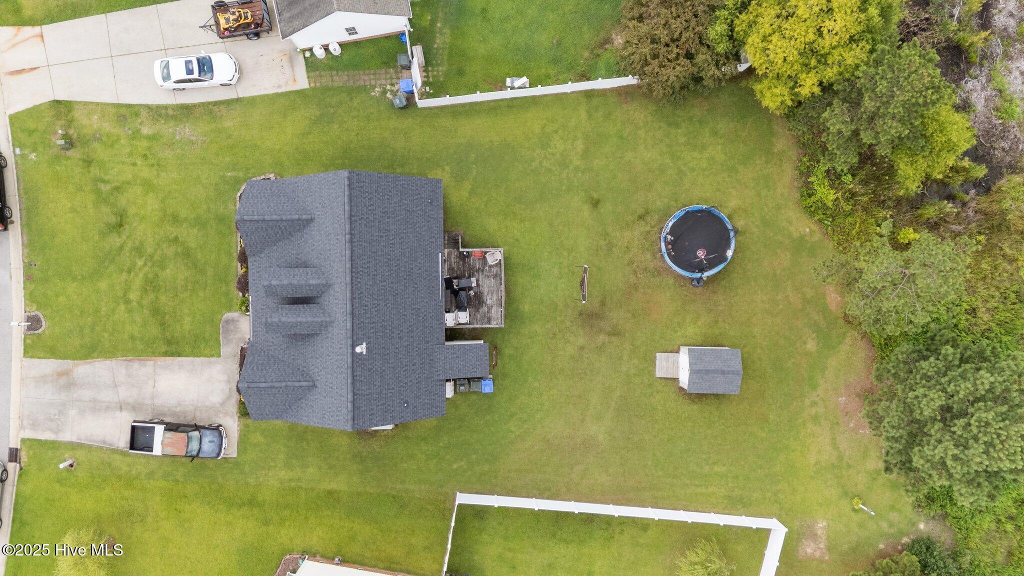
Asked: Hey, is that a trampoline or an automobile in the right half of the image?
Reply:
trampoline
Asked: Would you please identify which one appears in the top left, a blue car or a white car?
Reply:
white car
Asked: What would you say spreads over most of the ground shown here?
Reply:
grass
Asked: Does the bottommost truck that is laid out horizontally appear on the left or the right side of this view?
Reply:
left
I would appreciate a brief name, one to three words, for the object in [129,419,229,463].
truck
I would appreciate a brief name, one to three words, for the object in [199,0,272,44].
trailer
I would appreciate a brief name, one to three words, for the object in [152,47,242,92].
car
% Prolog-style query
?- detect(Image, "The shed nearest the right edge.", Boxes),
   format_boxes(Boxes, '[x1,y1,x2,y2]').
[680,346,742,394]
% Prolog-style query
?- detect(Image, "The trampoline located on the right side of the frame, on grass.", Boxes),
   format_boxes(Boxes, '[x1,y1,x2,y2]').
[657,202,738,279]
